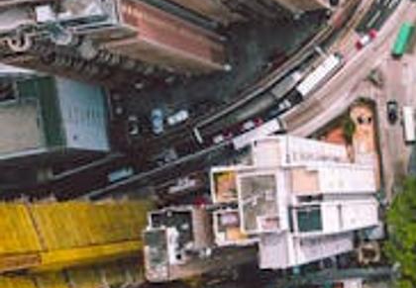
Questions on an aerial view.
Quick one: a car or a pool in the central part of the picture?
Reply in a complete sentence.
The feature located in the central part of the picture is a car.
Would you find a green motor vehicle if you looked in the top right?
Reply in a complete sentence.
Yes, a green motor vehicle shows up in the top right.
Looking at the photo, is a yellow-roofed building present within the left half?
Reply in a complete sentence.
Yes, a yellow-roofed building shows up within the left half.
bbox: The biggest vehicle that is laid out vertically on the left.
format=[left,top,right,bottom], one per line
[151,108,166,135]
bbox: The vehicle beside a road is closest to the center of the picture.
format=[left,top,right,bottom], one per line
[213,129,236,145]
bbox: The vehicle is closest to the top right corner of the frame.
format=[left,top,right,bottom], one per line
[392,20,416,59]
